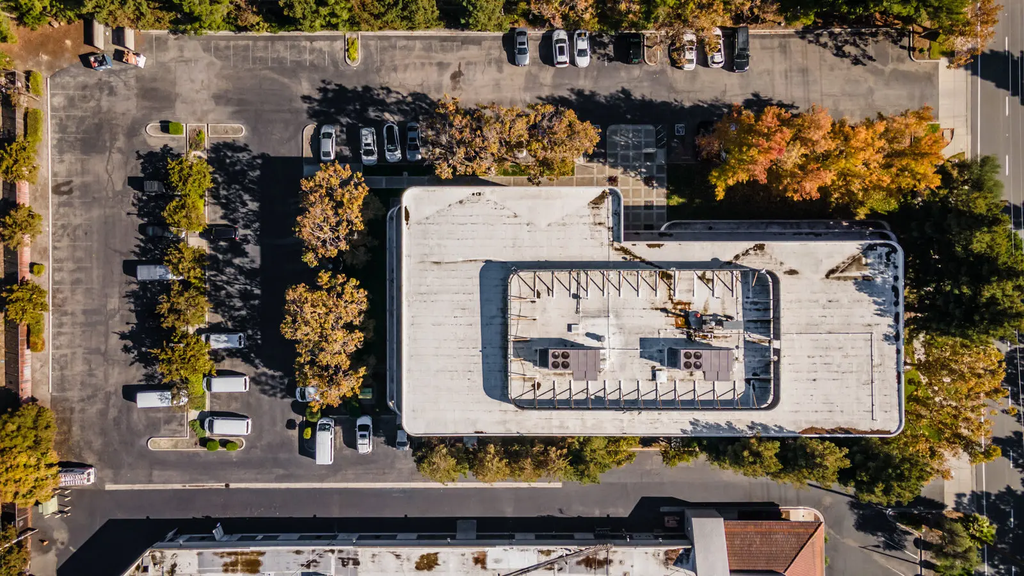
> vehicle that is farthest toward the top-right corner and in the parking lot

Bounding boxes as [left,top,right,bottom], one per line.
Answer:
[731,28,751,73]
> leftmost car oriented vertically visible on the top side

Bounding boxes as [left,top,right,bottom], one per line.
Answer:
[318,125,336,162]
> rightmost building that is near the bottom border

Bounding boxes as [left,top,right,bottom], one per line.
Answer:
[724,519,827,576]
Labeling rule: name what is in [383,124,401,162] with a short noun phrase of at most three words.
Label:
car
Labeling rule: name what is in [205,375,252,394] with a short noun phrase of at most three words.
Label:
vehicle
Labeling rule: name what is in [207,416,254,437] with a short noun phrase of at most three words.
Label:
vehicle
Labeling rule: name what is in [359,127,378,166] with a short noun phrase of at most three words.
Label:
car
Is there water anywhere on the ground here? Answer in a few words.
No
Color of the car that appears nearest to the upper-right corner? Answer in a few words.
black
